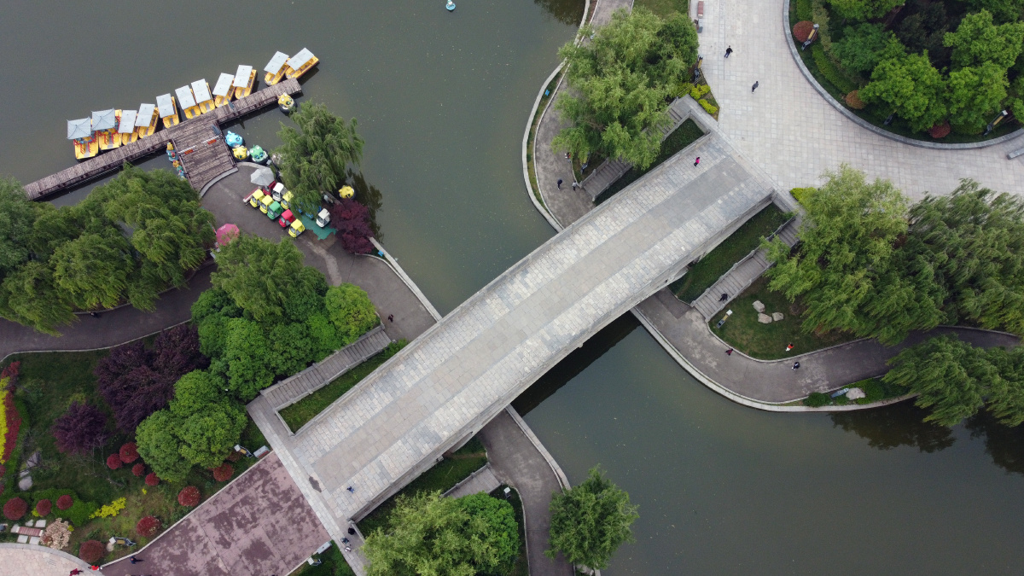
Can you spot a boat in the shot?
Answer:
Yes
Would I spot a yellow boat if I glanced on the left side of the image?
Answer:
Yes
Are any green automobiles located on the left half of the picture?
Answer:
Yes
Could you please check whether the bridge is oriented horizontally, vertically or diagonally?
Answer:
diagonally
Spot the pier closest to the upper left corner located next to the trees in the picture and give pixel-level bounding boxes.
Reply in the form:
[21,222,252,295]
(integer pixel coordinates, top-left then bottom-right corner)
[24,78,300,198]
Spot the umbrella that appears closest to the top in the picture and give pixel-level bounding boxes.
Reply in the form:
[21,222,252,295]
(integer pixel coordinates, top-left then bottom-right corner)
[252,165,277,187]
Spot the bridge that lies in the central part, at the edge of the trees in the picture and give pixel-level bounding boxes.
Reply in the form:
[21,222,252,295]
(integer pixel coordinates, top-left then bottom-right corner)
[293,130,774,521]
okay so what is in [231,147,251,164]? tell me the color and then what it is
yellow boat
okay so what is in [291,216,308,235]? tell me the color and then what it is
yellow car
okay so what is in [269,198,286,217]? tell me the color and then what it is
green car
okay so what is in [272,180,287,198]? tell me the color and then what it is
white car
